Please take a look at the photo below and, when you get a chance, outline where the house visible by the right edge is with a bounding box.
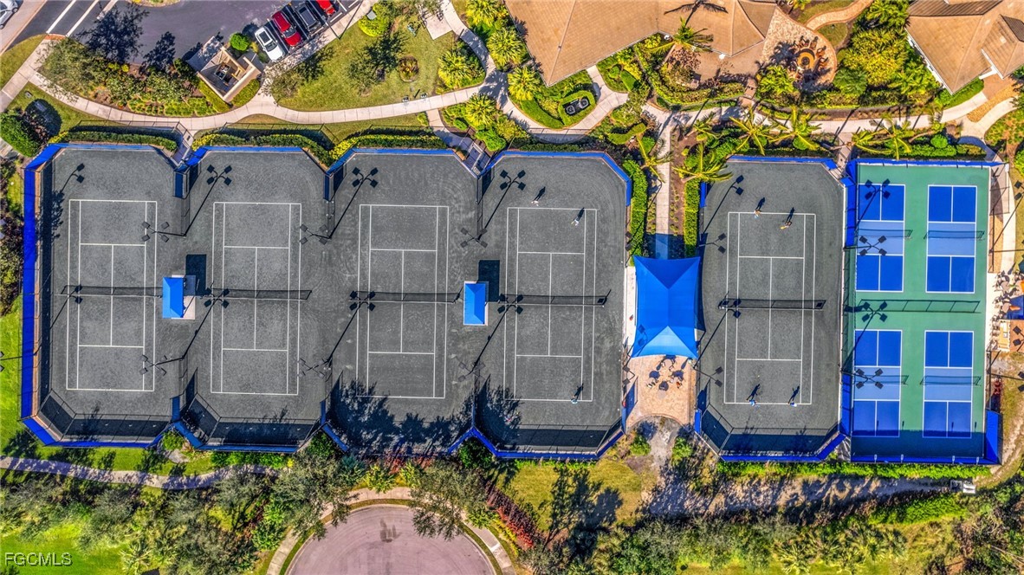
[903,0,1024,94]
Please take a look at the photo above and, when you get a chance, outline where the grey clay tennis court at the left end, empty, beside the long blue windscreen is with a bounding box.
[36,150,184,441]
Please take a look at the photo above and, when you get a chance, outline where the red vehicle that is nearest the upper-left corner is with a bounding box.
[271,7,303,47]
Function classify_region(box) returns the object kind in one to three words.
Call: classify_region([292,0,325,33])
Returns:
car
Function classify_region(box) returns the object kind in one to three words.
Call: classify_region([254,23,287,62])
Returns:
car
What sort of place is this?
sports ground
